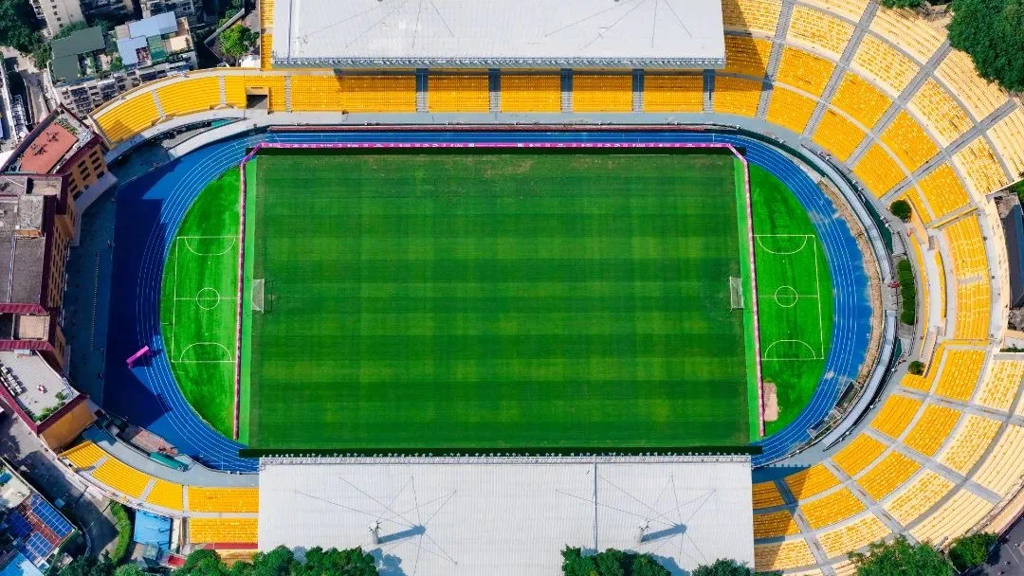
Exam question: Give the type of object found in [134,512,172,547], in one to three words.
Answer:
shed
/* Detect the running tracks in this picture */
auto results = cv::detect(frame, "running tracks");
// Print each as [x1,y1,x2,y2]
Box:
[103,126,883,475]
